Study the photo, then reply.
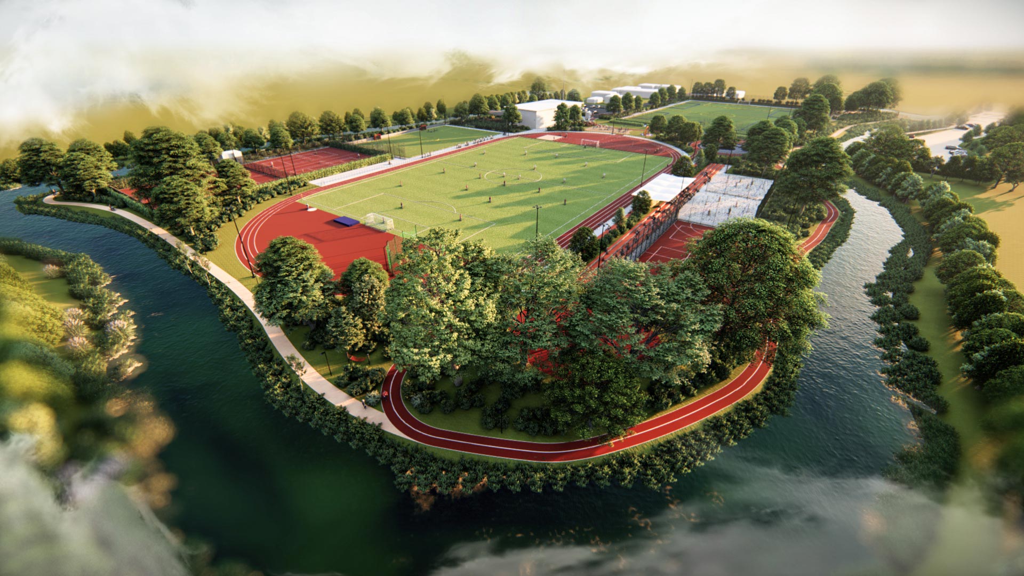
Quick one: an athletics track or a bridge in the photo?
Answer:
athletics track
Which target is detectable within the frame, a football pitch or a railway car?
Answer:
football pitch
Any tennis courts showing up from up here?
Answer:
Yes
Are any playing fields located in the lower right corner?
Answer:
No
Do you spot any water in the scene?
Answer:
Yes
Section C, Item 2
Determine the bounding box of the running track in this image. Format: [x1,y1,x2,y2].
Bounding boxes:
[228,131,684,298]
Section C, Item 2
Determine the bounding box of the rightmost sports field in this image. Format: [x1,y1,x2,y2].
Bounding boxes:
[628,101,794,141]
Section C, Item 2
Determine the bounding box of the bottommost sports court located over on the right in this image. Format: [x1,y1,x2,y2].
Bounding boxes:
[616,221,748,297]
